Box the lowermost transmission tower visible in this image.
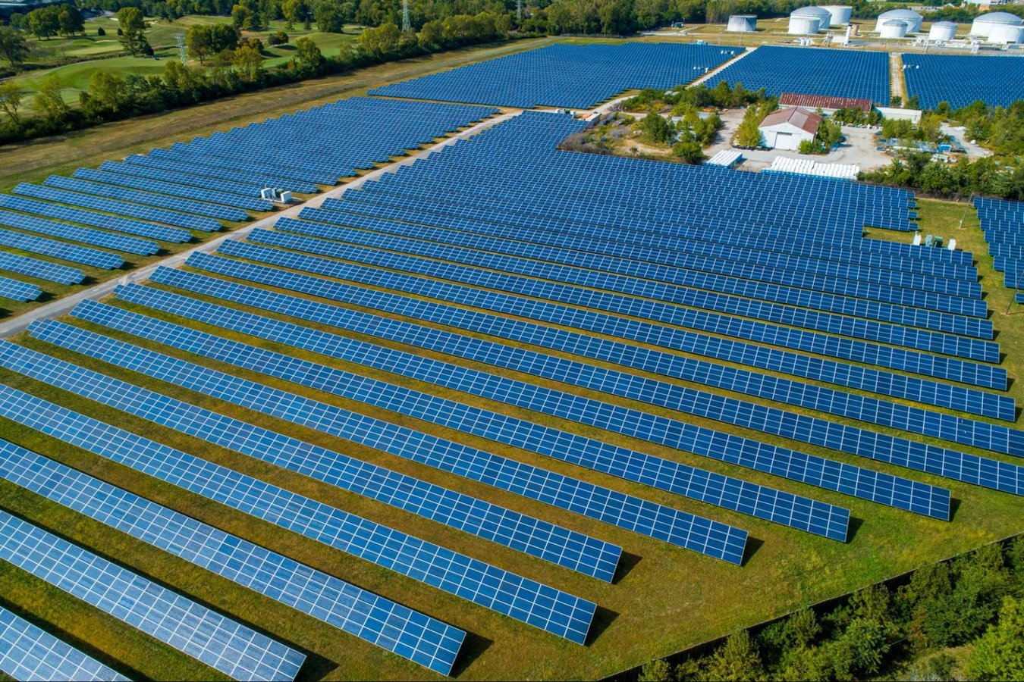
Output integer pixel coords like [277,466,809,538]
[172,32,189,63]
